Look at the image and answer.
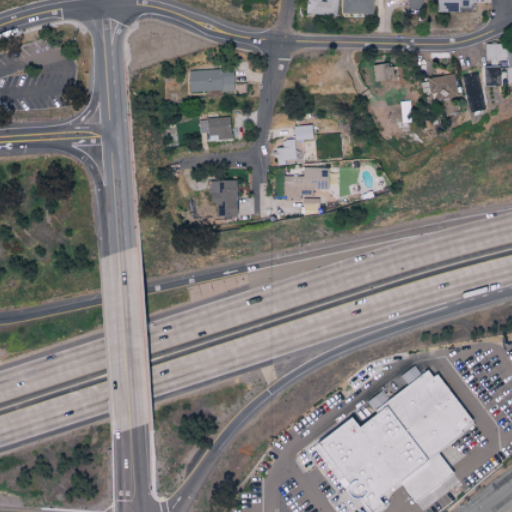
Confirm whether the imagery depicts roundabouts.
No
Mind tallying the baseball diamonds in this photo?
0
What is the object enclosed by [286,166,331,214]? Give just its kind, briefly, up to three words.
house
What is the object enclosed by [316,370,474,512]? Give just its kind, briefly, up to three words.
building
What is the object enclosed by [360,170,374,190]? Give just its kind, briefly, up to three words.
swimming pool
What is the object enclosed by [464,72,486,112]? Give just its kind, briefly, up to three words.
building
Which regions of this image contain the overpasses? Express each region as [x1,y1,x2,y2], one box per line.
[100,246,152,433]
